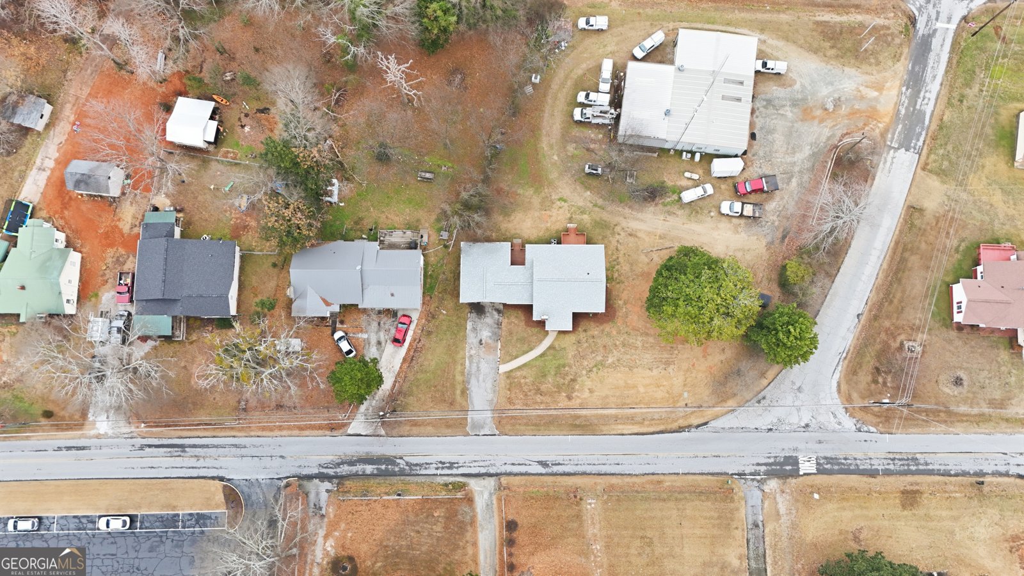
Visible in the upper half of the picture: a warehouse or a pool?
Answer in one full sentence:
You can see a warehouse in the upper half of the picture.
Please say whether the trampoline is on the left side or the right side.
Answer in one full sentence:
You can find the trampoline on the left side of the picture.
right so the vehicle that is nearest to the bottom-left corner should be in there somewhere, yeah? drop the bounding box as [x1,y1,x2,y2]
[8,516,42,532]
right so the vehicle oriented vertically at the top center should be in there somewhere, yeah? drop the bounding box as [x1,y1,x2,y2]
[597,57,615,92]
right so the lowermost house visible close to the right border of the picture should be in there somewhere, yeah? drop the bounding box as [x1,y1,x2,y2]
[947,252,1024,345]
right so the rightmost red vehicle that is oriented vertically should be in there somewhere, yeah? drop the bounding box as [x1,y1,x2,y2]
[393,314,411,348]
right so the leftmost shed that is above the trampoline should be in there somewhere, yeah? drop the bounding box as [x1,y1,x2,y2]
[1,94,56,135]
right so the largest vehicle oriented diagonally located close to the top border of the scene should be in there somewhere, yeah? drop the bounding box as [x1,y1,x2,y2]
[631,27,667,61]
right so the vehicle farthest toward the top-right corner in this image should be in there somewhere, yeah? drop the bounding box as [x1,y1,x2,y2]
[755,58,788,76]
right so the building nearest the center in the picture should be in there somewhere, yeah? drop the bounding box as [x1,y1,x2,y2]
[460,240,607,331]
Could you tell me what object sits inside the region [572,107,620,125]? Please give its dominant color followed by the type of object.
white vehicle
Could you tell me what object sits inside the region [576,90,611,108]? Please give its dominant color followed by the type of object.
white vehicle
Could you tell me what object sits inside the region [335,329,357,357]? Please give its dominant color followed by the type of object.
white car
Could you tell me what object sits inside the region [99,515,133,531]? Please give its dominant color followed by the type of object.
white car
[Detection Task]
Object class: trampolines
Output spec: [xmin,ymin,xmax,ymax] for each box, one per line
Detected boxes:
[0,197,36,235]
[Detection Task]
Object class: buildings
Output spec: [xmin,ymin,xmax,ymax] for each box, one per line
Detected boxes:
[460,240,607,331]
[166,97,222,151]
[1014,113,1024,170]
[286,240,423,317]
[1,94,56,135]
[0,217,83,322]
[947,252,1024,345]
[549,20,572,44]
[617,28,758,156]
[133,211,243,340]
